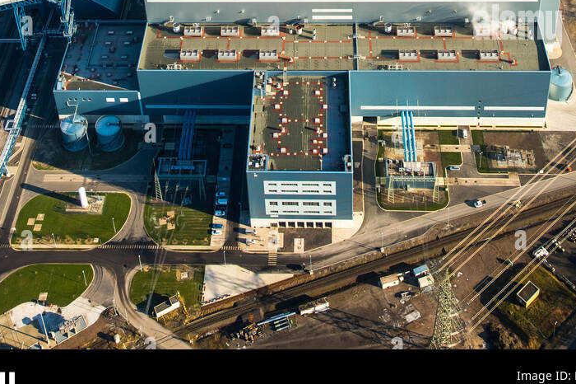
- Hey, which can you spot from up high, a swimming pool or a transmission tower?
transmission tower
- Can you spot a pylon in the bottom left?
No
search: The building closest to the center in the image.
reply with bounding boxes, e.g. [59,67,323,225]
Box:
[247,74,352,225]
